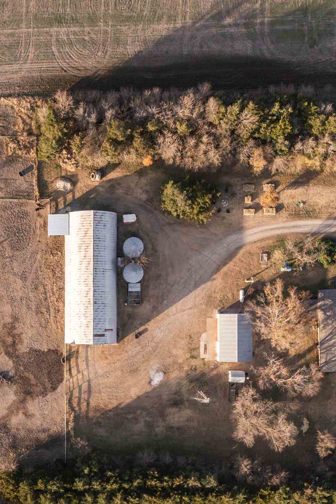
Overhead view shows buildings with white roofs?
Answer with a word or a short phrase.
Yes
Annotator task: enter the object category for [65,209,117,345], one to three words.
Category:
barn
